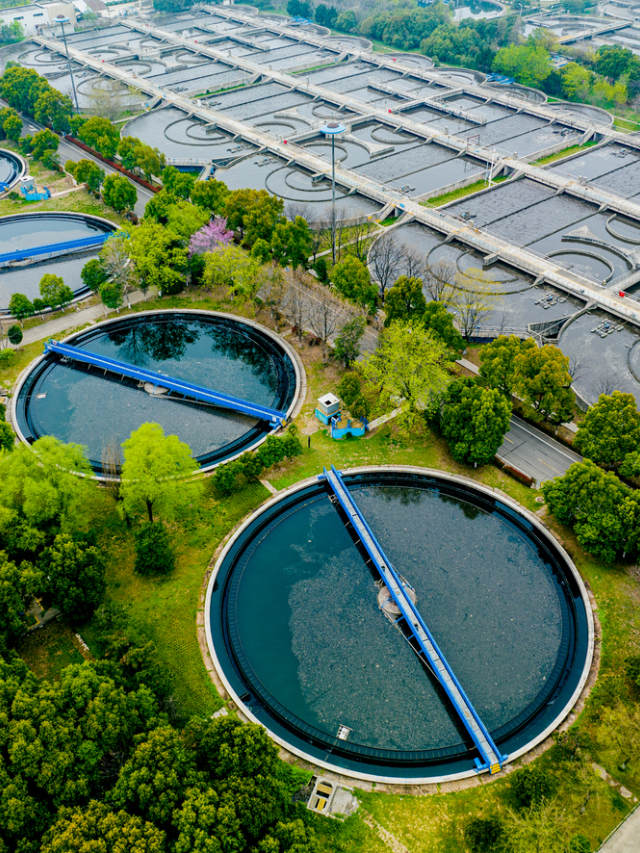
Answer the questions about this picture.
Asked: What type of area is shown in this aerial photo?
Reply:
industrial area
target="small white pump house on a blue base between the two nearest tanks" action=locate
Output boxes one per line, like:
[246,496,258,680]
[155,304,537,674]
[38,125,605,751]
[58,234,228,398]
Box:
[314,387,342,423]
